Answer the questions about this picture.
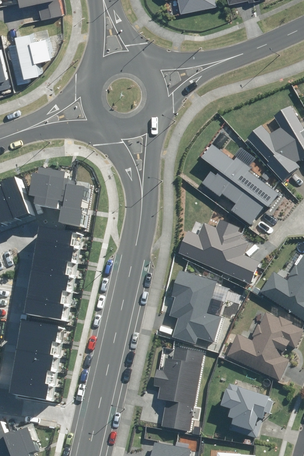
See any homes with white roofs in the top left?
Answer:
Yes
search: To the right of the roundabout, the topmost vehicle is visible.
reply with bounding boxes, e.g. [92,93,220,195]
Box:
[181,80,198,95]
